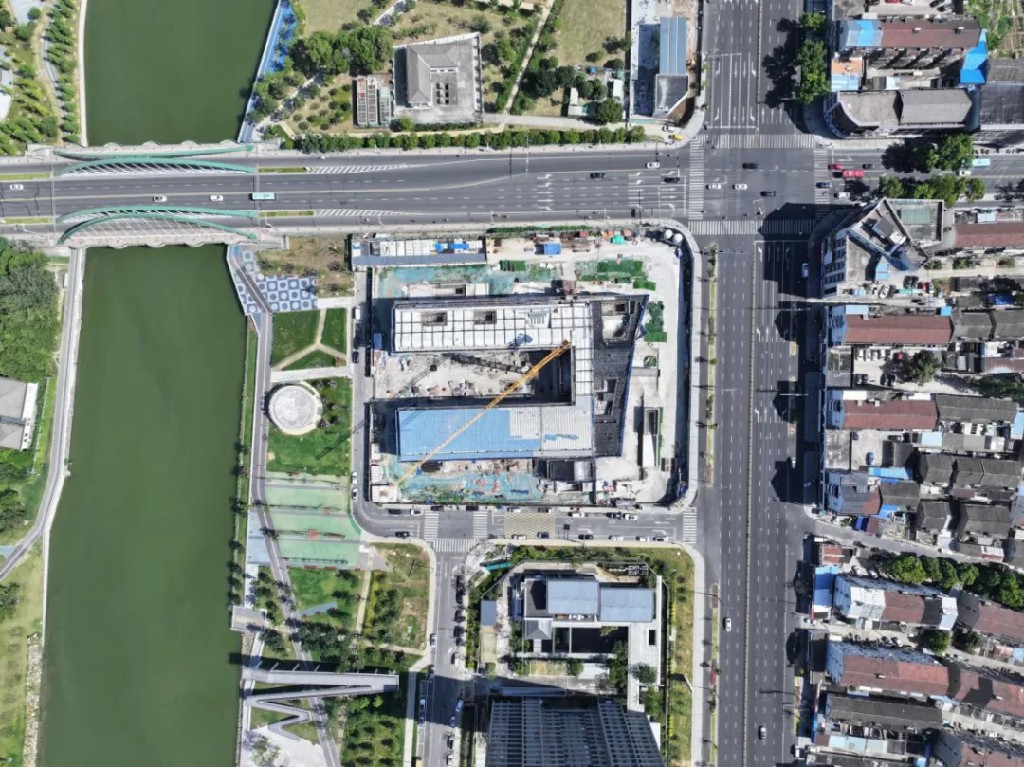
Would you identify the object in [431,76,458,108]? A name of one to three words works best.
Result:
building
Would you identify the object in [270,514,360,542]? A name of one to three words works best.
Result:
sports court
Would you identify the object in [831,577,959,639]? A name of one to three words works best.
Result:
house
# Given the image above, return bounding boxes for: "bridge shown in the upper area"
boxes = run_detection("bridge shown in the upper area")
[50,141,259,253]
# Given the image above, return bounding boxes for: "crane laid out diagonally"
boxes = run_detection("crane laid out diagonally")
[394,341,572,486]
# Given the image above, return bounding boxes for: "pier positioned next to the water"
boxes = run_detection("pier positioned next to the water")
[228,606,267,633]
